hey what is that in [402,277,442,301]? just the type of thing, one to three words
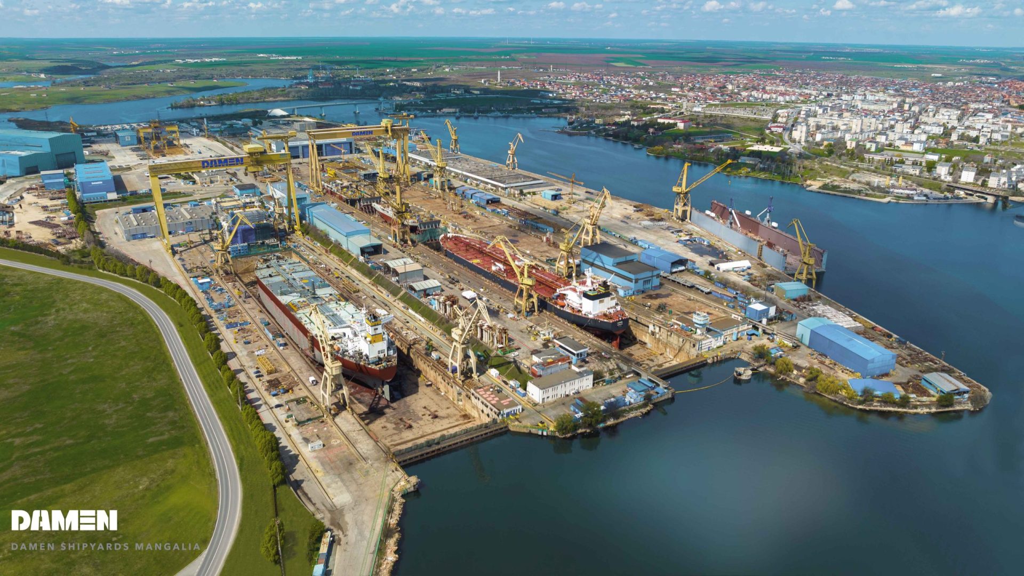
shed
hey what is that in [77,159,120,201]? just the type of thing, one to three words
building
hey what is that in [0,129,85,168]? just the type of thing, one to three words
building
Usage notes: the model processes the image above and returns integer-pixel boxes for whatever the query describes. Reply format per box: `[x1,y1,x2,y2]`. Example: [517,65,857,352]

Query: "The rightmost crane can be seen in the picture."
[785,218,823,283]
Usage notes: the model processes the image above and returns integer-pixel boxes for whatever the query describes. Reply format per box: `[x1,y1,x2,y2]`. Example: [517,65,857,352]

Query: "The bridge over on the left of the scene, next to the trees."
[263,96,500,117]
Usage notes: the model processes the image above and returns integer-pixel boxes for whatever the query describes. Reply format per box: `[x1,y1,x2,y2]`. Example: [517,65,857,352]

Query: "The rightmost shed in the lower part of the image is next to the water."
[906,354,974,400]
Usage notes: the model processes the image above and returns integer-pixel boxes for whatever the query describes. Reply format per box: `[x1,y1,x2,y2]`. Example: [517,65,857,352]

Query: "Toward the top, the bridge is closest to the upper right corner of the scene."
[926,177,1024,203]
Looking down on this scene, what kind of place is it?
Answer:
port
